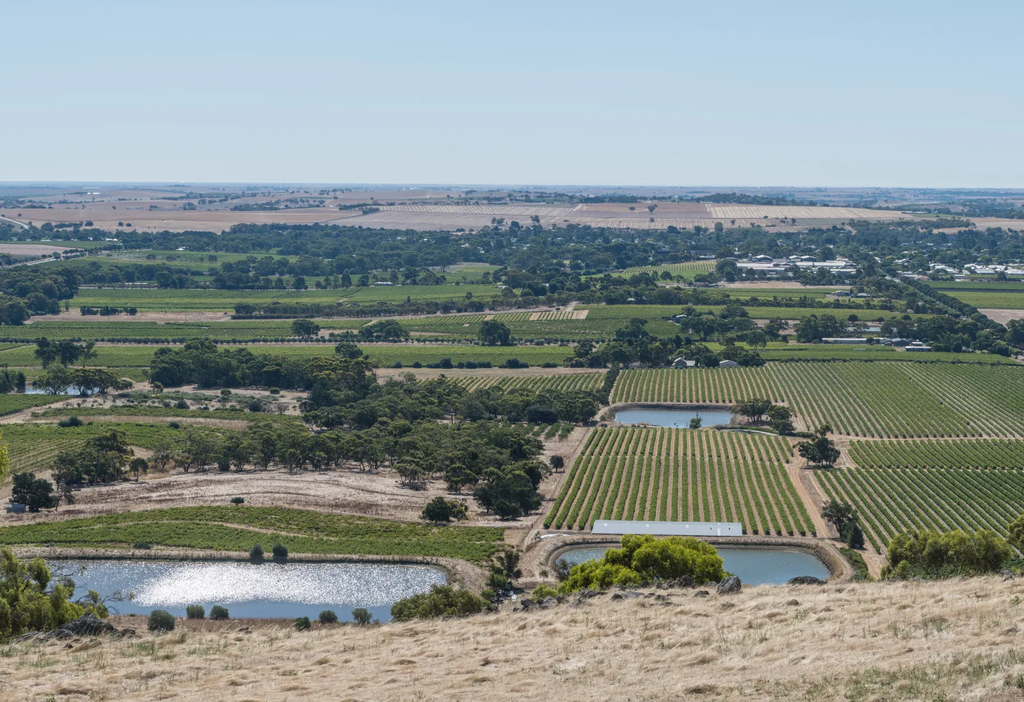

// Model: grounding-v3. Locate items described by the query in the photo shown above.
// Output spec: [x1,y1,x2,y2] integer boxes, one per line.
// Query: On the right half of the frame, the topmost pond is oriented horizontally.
[612,409,736,427]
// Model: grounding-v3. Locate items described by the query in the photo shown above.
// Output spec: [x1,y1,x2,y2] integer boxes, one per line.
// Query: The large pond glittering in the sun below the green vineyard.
[45,561,452,622]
